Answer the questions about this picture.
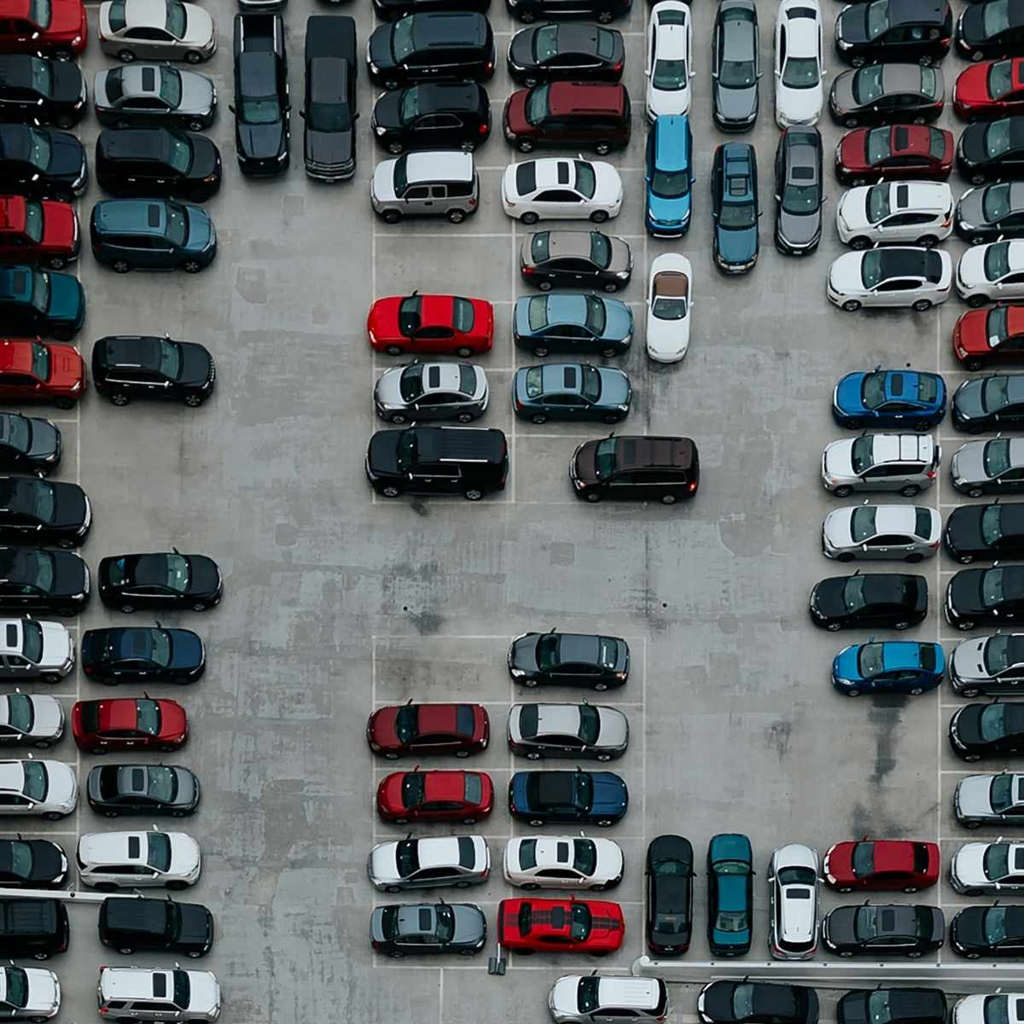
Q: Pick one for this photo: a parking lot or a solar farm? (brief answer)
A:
parking lot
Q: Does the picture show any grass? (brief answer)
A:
No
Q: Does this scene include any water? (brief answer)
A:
No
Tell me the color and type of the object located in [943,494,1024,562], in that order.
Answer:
black car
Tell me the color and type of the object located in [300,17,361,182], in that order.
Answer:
black truck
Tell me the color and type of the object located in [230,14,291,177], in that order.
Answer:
black truck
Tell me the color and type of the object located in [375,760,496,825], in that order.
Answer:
red car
